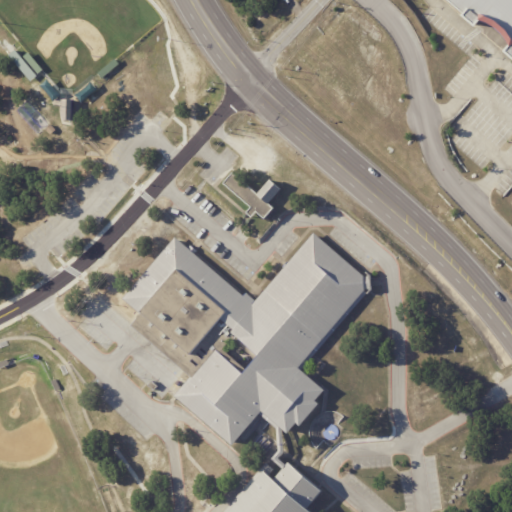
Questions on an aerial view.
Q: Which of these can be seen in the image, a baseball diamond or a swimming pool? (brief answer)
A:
baseball diamond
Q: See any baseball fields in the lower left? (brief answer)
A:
Yes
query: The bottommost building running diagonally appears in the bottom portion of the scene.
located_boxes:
[276,464,321,508]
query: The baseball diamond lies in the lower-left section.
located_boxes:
[0,358,107,512]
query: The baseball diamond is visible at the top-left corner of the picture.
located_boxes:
[0,0,161,91]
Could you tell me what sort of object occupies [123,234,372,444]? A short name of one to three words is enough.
building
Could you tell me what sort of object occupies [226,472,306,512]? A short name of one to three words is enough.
building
